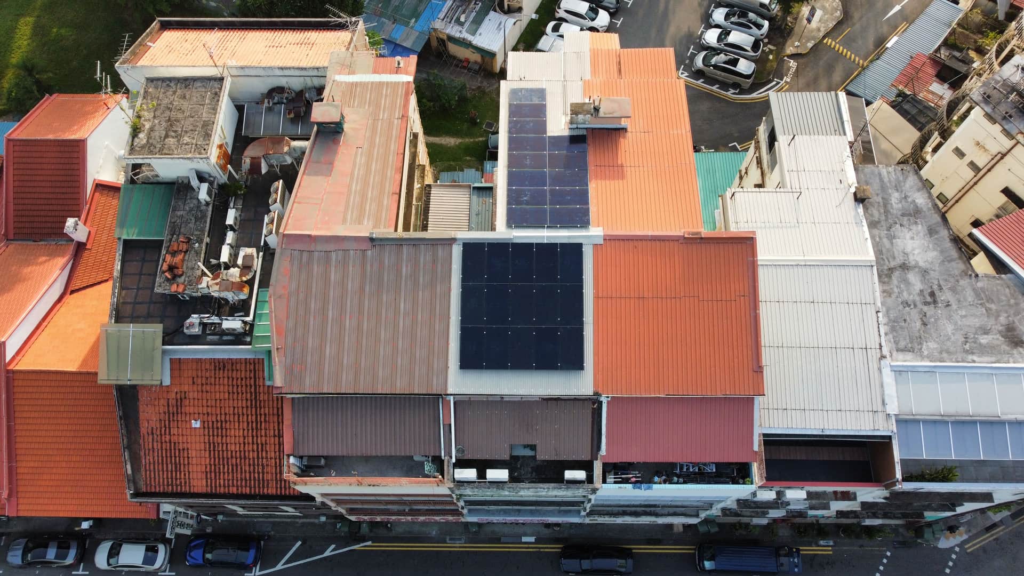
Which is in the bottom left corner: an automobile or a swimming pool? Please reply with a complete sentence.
It is an automobile that can be seen in the bottom left corner.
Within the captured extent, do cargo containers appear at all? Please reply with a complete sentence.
No, no cargo container is visible in the scene.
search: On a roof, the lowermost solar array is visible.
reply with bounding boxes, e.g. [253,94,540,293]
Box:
[459,242,586,370]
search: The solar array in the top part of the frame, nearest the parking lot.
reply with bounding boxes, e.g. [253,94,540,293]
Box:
[507,87,589,229]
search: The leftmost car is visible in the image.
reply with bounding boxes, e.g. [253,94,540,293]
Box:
[4,535,88,570]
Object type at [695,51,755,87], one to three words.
car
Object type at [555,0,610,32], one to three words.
car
